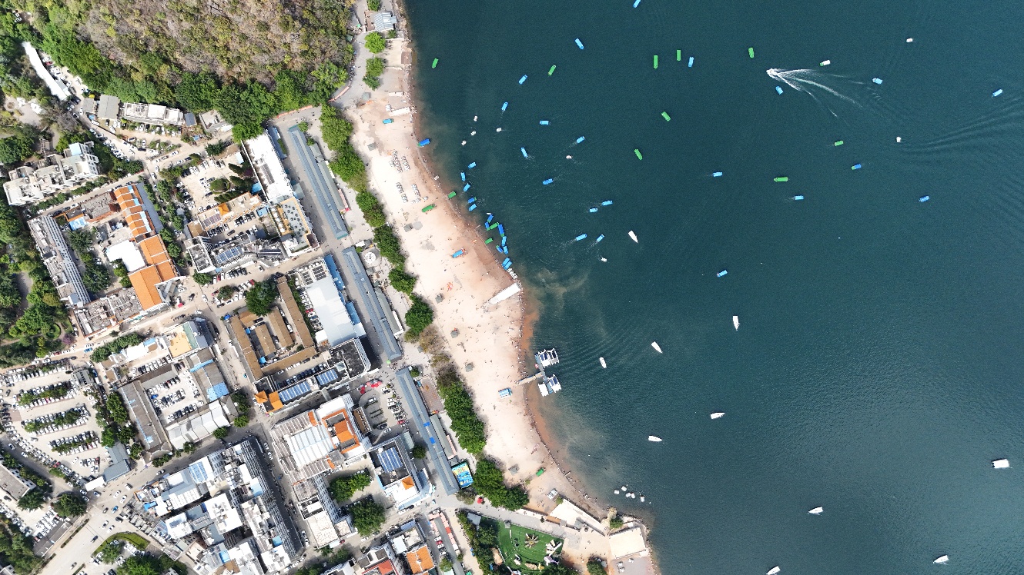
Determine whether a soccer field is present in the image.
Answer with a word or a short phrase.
No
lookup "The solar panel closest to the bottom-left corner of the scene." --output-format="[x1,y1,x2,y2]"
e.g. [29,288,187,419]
[190,462,208,483]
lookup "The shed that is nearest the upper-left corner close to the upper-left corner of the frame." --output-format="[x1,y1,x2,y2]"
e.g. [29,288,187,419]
[23,41,75,100]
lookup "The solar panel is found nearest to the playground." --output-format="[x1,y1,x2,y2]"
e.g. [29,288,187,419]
[378,447,403,473]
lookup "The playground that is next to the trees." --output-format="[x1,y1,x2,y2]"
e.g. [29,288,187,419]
[478,514,564,575]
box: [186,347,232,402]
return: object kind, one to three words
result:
building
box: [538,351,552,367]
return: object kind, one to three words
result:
boat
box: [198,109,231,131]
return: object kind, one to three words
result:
house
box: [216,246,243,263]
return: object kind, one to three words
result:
solar panel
